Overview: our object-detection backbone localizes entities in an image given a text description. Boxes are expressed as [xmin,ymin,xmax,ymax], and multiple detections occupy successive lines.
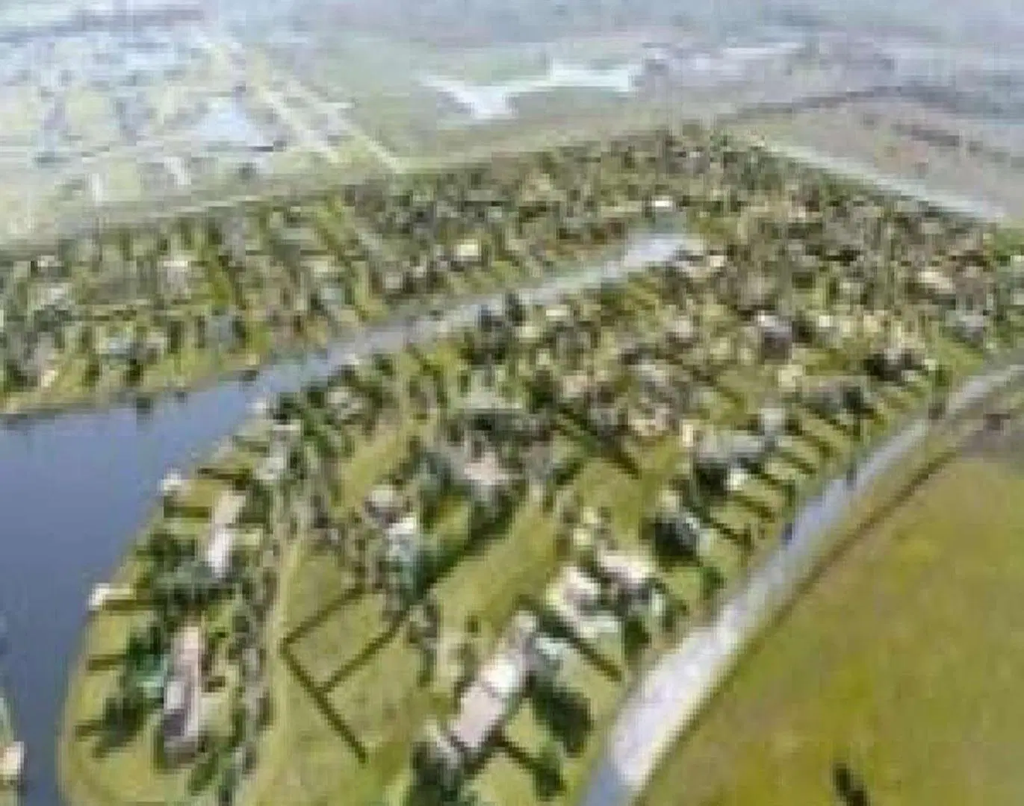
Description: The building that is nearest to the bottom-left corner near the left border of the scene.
[0,739,32,789]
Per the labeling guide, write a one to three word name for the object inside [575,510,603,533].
shed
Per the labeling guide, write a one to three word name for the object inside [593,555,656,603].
house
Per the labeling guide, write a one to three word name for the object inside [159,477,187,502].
building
